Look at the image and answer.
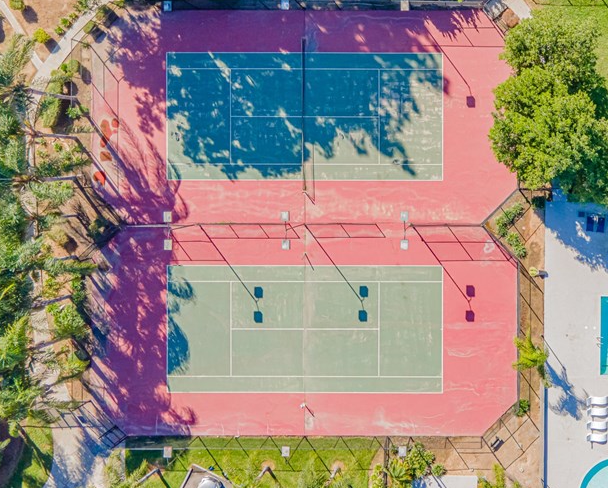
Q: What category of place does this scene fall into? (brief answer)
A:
sports ground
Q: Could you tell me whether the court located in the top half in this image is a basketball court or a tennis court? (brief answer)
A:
tennis court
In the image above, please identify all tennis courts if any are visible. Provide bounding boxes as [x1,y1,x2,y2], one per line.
[91,10,519,225]
[89,224,518,436]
